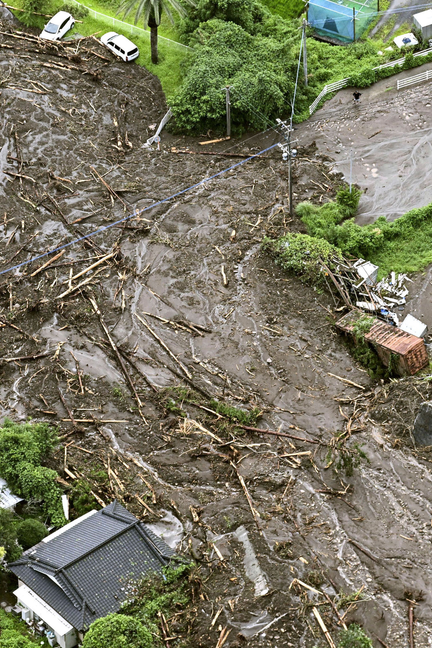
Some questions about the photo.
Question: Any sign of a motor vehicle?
Yes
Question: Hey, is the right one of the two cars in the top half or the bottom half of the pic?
top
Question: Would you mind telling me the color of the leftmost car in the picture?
white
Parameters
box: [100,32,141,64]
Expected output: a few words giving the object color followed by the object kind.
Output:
white car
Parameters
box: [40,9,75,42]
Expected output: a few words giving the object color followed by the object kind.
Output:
white car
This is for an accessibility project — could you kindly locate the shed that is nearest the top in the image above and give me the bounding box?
[411,9,432,40]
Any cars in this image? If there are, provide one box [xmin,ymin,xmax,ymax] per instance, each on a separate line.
[100,32,141,64]
[40,9,75,42]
